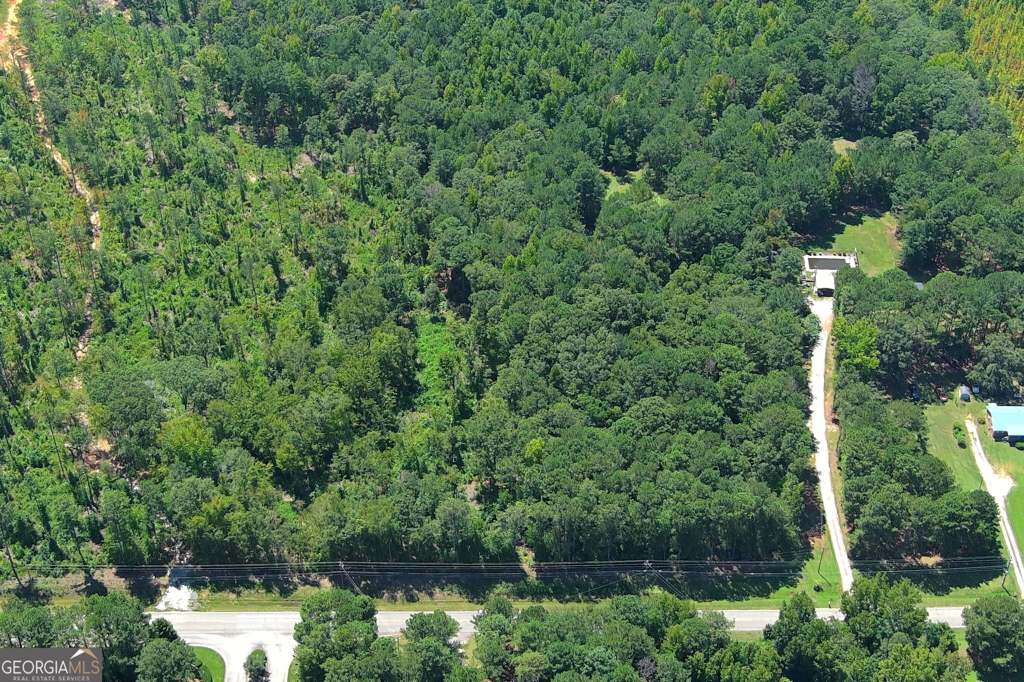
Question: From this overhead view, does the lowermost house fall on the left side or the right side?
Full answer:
You can find the lowermost house on the right side of the picture.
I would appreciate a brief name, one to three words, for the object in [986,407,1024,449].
house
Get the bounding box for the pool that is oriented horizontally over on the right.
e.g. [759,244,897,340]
[804,255,856,272]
